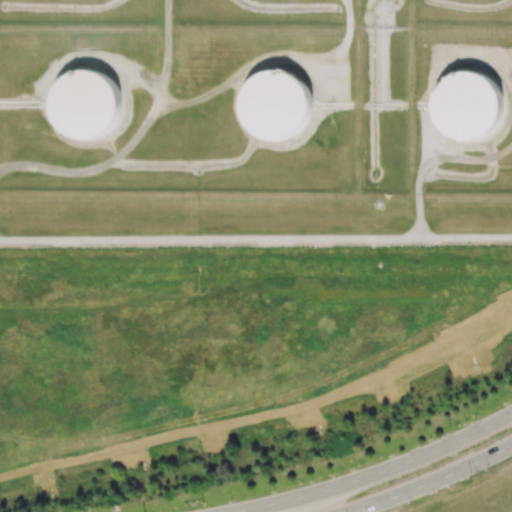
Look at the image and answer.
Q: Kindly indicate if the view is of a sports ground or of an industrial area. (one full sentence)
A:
What you see here is an industrial area.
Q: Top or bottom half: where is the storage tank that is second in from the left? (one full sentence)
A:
You can find the storage tank that is second in from the left in the top half.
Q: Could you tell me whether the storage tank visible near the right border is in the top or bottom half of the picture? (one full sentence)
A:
It is in the top half that the storage tank visible near the right border appears.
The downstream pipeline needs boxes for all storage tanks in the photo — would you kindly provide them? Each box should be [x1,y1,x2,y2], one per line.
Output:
[47,68,123,142]
[237,68,314,143]
[429,69,506,144]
